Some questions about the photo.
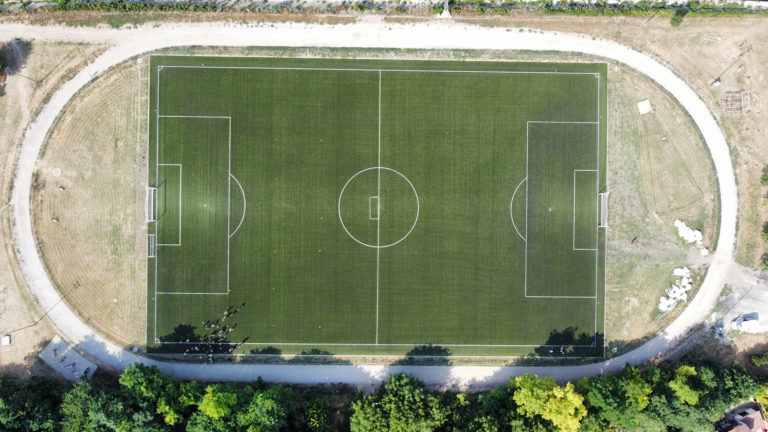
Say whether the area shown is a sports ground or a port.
sports ground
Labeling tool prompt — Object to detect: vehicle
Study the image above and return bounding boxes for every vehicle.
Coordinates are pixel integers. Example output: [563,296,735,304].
[729,320,760,333]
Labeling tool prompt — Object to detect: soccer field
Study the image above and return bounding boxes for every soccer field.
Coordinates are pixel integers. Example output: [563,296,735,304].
[146,55,608,358]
